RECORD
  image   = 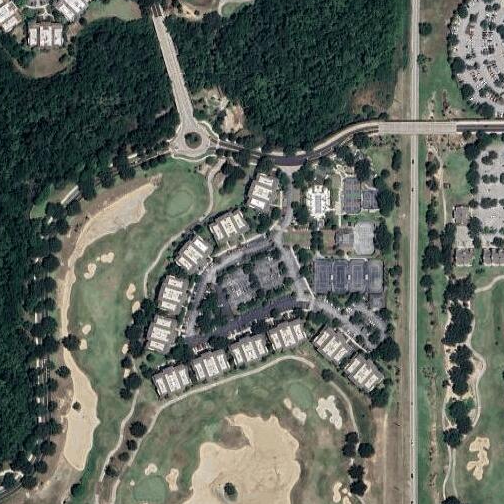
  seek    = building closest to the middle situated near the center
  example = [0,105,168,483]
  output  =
[208,206,249,245]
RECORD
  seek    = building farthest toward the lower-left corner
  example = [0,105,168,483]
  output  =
[152,364,192,401]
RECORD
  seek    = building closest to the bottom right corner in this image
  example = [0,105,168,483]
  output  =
[342,354,384,395]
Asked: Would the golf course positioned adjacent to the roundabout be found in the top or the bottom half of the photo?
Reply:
bottom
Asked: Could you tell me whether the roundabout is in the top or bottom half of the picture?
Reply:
top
